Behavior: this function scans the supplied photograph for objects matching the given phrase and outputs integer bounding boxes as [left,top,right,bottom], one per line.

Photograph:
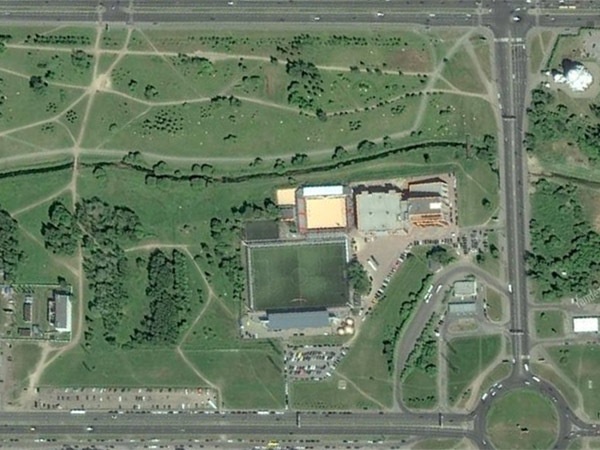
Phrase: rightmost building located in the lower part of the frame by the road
[574,318,599,332]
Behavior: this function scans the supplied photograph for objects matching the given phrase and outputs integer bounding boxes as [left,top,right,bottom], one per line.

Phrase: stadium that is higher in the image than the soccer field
[296,186,356,234]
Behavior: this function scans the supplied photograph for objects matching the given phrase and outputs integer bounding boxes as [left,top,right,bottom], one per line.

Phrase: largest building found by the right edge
[566,66,595,91]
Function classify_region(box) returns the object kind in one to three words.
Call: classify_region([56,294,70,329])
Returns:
shed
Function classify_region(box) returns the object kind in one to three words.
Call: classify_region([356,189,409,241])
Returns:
building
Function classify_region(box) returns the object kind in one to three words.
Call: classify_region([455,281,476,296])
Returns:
building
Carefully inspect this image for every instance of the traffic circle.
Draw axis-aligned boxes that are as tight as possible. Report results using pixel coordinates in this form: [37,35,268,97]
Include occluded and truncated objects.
[475,377,570,450]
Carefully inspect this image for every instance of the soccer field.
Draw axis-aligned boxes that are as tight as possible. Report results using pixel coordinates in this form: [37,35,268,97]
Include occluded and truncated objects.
[243,235,350,309]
